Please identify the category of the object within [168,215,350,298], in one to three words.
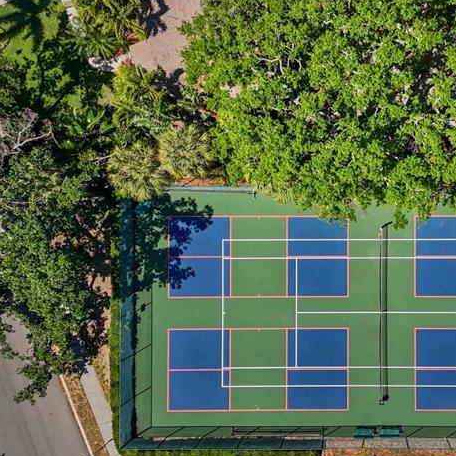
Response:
sports court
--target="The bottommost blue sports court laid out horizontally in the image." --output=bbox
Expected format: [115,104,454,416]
[168,328,349,411]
